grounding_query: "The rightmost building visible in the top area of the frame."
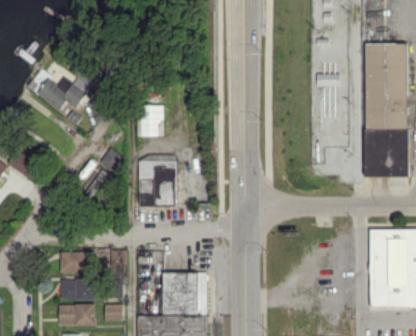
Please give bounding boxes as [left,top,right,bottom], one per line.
[367,43,410,176]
